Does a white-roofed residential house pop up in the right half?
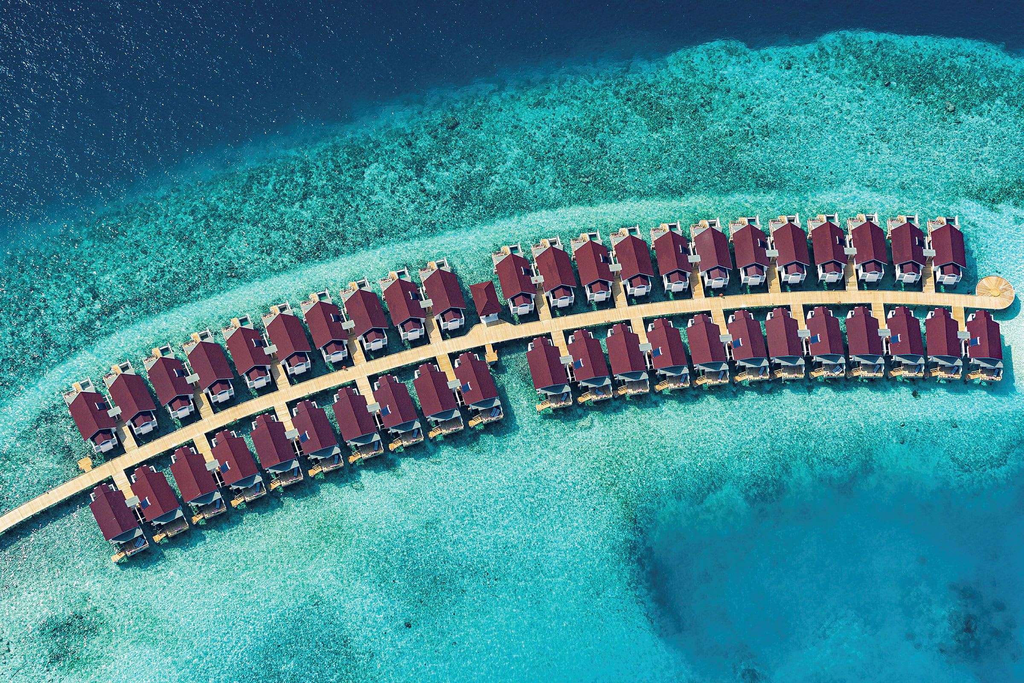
No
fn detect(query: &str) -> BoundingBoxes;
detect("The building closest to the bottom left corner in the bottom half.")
[89,485,149,563]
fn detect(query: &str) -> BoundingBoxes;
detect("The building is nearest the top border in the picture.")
[470,280,501,323]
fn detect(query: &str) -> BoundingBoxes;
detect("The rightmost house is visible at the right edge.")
[965,310,1004,385]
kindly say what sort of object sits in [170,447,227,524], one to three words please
house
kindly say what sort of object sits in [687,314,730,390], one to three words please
house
